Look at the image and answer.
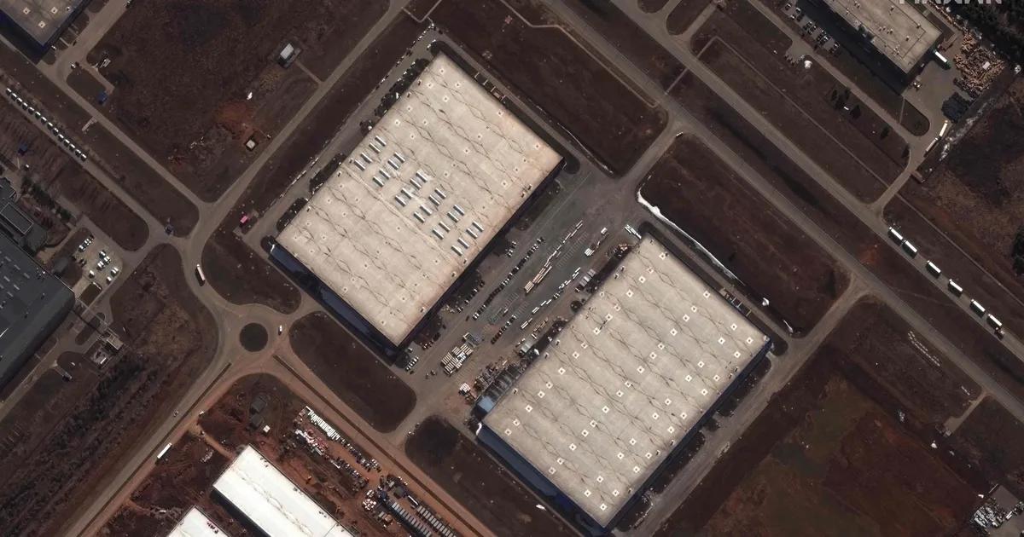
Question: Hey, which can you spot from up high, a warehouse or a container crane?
warehouse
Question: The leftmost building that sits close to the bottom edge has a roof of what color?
white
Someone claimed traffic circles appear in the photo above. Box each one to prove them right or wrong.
[230,314,277,361]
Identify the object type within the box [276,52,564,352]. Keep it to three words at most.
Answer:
warehouse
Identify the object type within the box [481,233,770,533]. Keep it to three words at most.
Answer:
warehouse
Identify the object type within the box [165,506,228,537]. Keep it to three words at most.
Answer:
building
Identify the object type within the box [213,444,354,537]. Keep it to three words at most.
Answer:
building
